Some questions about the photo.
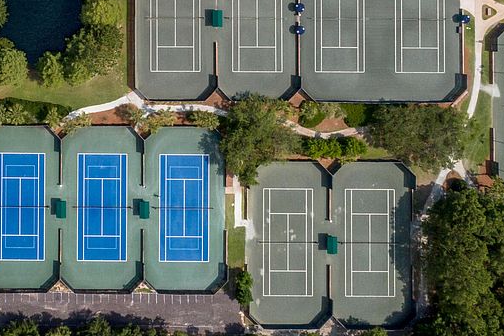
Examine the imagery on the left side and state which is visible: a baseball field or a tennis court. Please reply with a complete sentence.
There is a tennis court on the left side.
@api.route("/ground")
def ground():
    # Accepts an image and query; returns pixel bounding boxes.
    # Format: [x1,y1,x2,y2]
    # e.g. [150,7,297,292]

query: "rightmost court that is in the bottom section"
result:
[334,164,413,328]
